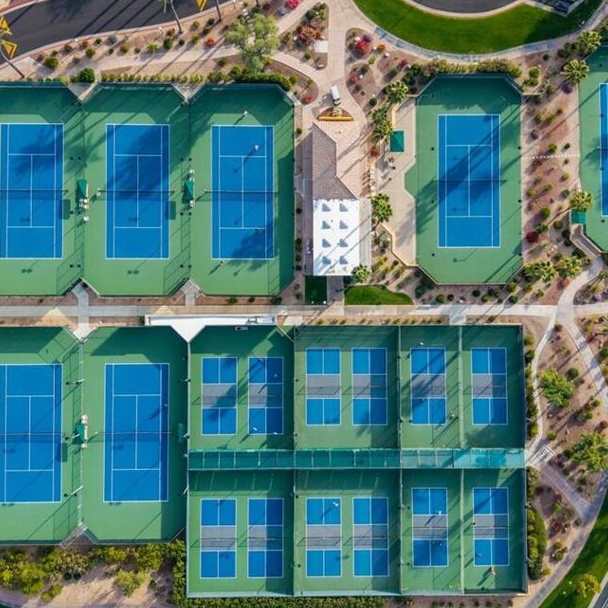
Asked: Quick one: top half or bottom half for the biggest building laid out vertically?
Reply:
top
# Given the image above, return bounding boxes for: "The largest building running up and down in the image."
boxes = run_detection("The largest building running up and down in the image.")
[312,123,370,276]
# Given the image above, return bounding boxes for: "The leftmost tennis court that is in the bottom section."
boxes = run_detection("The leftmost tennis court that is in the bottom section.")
[0,328,81,541]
